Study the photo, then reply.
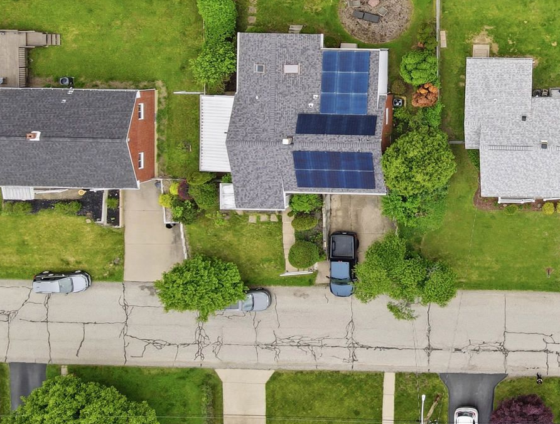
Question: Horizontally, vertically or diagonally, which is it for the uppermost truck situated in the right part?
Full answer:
In this picture, the uppermost truck situated in the right part is oriented vertically.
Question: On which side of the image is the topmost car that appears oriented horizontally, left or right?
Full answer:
The topmost car that appears oriented horizontally sits on the left side.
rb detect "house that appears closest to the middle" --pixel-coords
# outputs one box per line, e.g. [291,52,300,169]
[222,31,391,210]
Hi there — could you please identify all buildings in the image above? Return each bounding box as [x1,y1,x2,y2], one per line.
[0,87,161,193]
[222,31,391,210]
[463,57,560,204]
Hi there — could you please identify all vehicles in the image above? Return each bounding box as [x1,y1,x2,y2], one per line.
[453,405,479,424]
[218,287,270,316]
[28,269,93,298]
[322,229,355,295]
